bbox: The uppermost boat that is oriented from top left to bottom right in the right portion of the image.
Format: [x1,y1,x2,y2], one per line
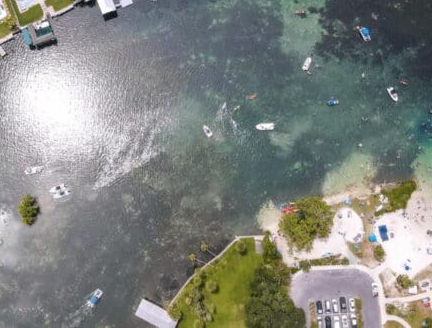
[359,27,371,42]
